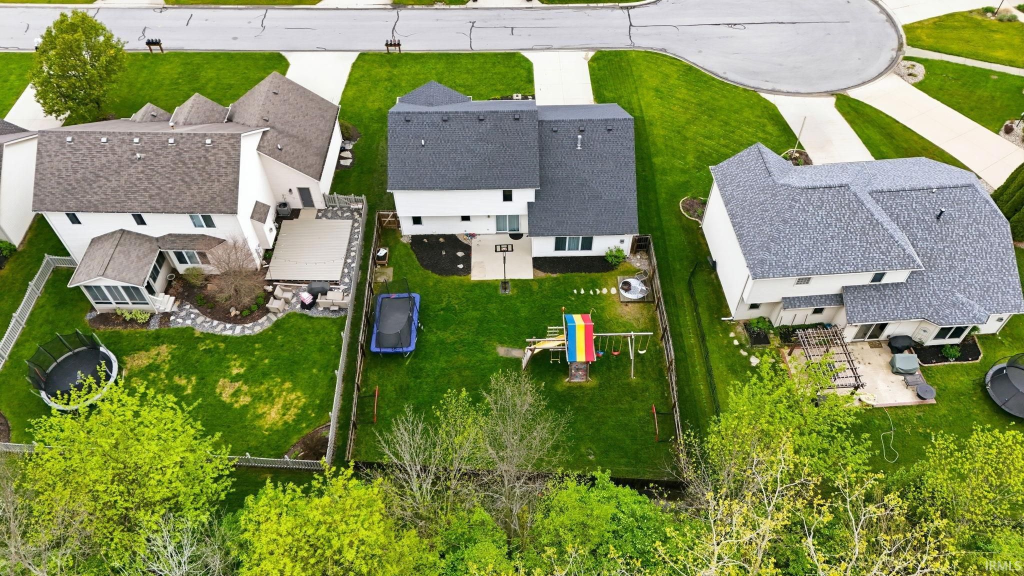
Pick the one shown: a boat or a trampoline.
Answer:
trampoline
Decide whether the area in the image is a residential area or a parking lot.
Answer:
residential area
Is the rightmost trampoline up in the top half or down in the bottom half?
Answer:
bottom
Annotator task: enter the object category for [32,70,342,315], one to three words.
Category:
house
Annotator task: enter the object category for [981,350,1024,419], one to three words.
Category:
trampoline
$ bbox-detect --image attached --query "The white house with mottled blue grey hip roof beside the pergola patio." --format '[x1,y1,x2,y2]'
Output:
[696,142,1024,346]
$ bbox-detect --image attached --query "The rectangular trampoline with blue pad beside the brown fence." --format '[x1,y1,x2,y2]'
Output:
[368,280,422,355]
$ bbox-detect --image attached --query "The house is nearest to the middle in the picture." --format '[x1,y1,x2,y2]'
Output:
[388,80,639,262]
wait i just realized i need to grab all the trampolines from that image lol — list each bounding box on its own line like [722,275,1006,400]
[22,325,121,409]
[981,350,1024,419]
[368,280,422,355]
